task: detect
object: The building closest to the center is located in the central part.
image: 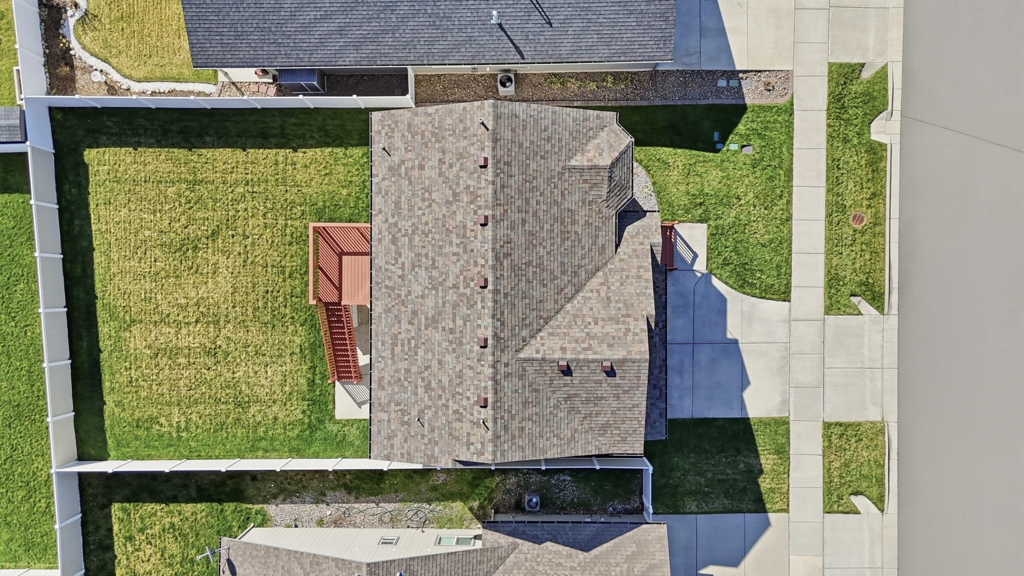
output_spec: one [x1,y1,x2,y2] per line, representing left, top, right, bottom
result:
[370,100,667,464]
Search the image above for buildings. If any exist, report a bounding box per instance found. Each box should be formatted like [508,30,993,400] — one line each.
[0,107,27,144]
[370,100,667,464]
[180,0,677,91]
[221,501,671,576]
